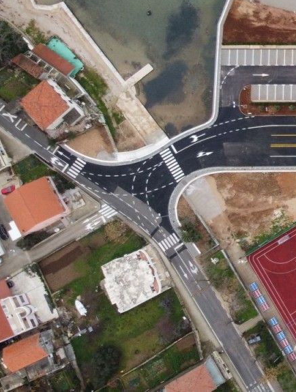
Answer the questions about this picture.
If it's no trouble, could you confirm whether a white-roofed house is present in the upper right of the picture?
No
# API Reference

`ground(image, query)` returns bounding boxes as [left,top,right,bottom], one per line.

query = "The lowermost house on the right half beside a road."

[165,354,228,392]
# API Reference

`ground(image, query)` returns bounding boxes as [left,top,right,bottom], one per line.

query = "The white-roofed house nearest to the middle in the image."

[101,248,165,313]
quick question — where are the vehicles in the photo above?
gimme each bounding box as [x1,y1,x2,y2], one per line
[0,185,15,195]
[0,224,9,240]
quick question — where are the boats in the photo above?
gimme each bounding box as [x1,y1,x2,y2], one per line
[73,303,86,317]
